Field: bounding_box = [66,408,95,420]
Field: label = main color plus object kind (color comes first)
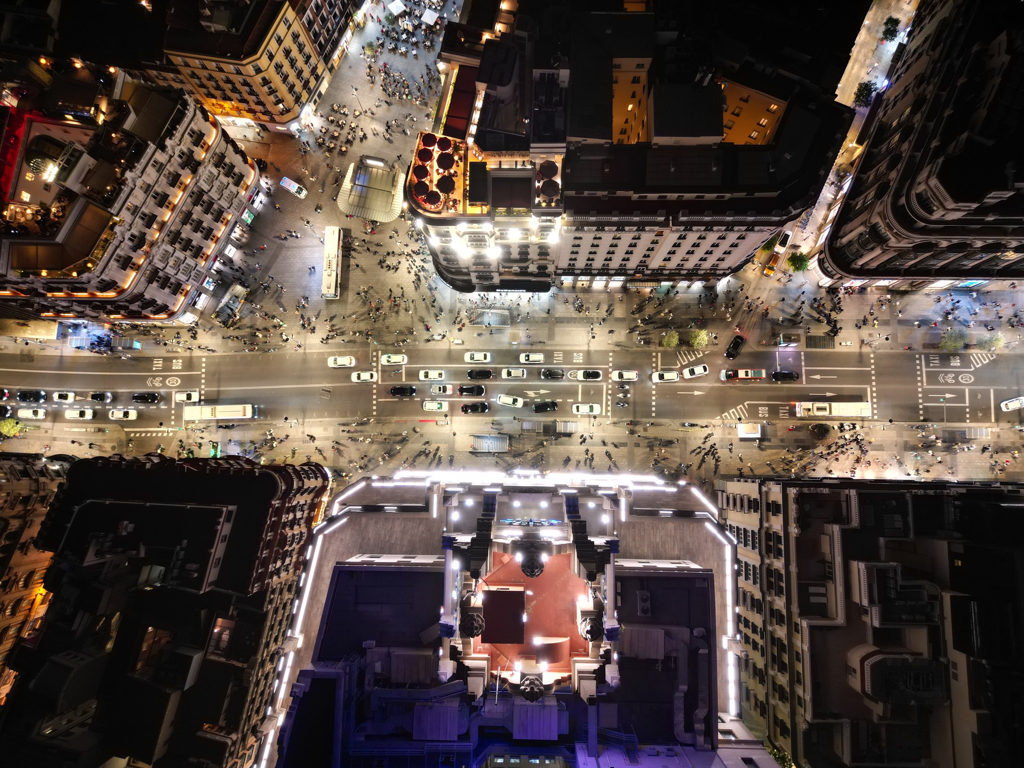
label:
white vehicle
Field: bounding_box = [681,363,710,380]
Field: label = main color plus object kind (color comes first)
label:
white car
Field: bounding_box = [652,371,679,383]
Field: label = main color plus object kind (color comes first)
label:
white vehicle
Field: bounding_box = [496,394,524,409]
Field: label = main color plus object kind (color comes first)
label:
white car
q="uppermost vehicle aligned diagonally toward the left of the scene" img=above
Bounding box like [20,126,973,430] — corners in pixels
[280,177,311,203]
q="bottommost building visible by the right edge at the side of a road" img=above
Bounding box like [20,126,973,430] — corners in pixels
[712,470,1024,768]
